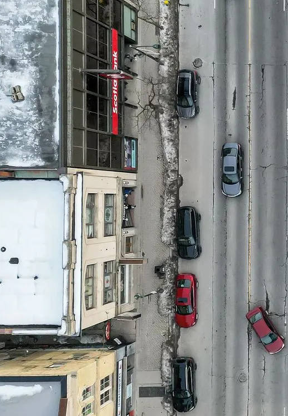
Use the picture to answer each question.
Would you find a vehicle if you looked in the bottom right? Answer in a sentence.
Yes, a vehicle is visible in the bottom right.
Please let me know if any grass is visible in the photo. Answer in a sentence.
No, there's no grass in this view.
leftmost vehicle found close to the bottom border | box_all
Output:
[170,356,199,412]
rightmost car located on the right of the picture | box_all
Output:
[247,303,285,356]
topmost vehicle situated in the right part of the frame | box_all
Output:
[174,69,202,119]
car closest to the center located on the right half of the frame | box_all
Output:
[174,206,203,259]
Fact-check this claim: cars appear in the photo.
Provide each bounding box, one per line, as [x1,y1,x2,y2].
[170,356,199,412]
[174,69,202,119]
[247,303,285,356]
[174,206,203,259]
[173,274,201,328]
[219,144,245,198]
